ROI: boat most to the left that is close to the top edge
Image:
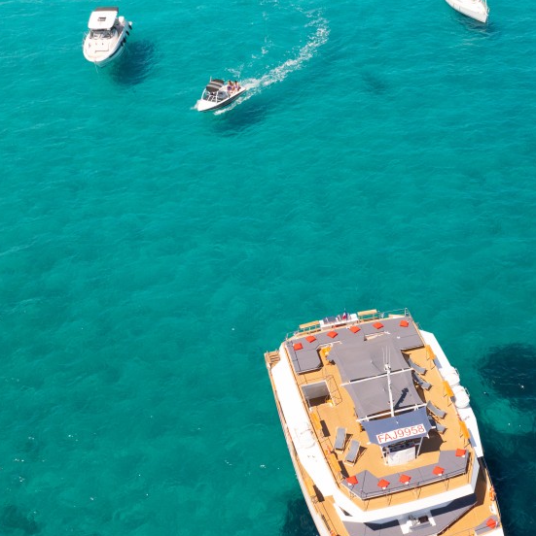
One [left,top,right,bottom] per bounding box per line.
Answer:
[84,11,124,68]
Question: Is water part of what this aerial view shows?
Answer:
Yes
